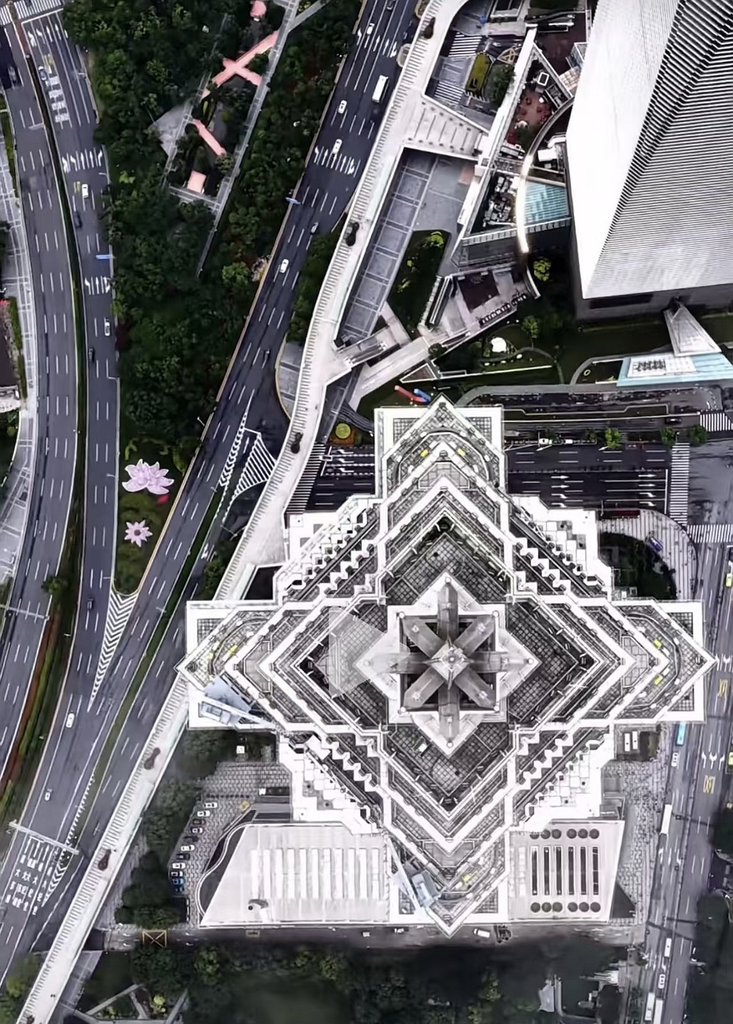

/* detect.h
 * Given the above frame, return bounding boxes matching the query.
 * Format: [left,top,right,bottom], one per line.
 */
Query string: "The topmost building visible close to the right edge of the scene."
[565,0,733,320]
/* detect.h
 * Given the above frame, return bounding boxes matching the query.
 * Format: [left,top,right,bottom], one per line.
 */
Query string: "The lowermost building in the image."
[539,981,555,1012]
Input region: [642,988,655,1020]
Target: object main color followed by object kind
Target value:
white vehicle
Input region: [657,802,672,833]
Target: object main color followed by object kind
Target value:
white vehicle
